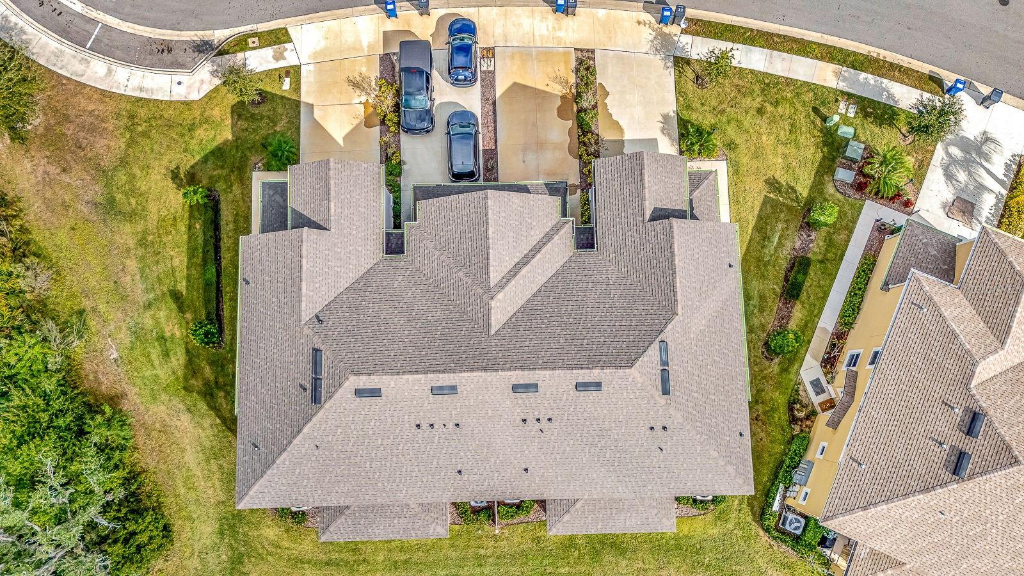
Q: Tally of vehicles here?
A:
3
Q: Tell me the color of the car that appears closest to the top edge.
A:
blue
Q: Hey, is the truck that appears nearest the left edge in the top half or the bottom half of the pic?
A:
top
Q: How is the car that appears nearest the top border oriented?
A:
vertically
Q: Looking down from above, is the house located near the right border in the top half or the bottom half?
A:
bottom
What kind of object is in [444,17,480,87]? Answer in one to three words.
car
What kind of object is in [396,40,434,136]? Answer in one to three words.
truck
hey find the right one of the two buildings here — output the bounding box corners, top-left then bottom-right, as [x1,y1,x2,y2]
[786,217,1024,576]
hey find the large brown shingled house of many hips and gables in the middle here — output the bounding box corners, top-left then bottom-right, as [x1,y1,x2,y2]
[233,154,756,542]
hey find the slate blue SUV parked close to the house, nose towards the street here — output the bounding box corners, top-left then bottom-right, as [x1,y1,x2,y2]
[444,110,482,181]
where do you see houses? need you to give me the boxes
[233,154,756,542]
[786,217,1024,576]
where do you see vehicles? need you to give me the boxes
[444,17,480,87]
[444,110,482,181]
[396,40,434,136]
